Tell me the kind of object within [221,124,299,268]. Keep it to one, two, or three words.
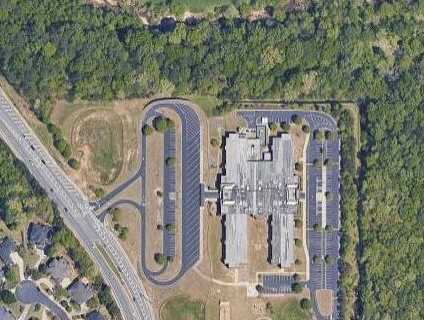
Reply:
building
